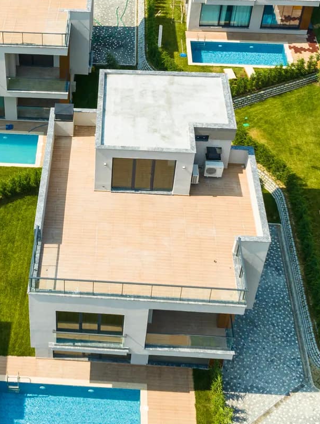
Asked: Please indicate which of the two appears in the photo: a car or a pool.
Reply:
pool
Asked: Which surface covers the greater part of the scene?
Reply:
buildings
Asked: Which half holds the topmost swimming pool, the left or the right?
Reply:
right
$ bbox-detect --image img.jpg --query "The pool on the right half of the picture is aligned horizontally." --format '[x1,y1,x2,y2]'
[185,27,318,66]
